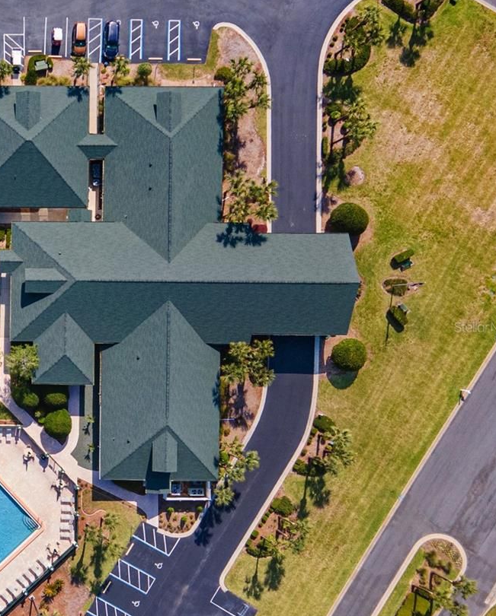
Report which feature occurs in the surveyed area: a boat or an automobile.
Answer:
automobile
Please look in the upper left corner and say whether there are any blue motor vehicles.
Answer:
Yes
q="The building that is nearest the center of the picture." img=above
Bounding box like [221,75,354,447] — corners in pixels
[0,86,360,492]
